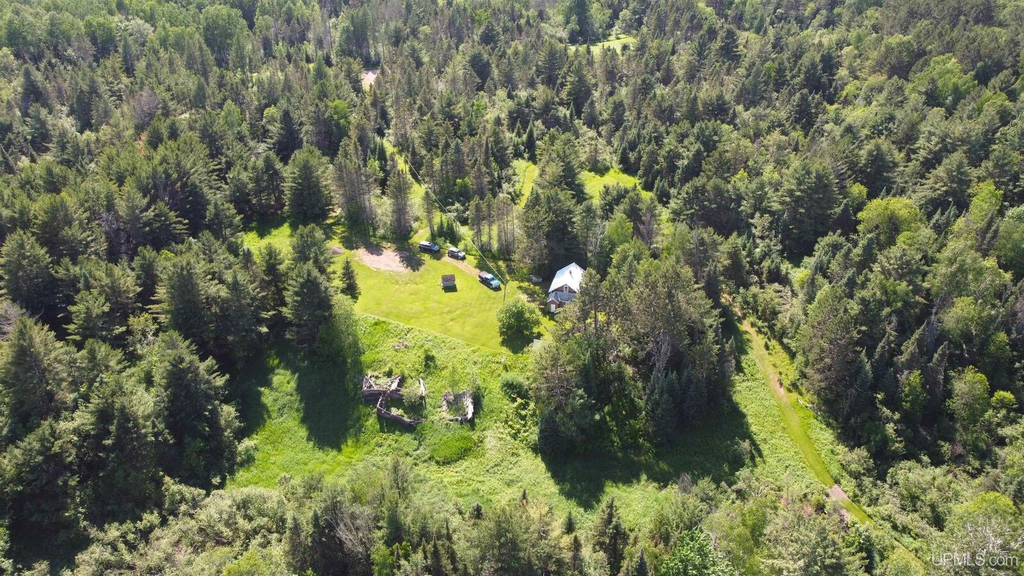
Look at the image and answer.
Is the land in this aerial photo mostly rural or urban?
rural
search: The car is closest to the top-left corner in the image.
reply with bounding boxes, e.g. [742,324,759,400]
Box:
[418,240,441,253]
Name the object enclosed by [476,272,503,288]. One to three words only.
vehicle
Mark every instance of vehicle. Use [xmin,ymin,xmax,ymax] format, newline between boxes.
[418,240,441,253]
[446,246,467,260]
[476,272,503,288]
